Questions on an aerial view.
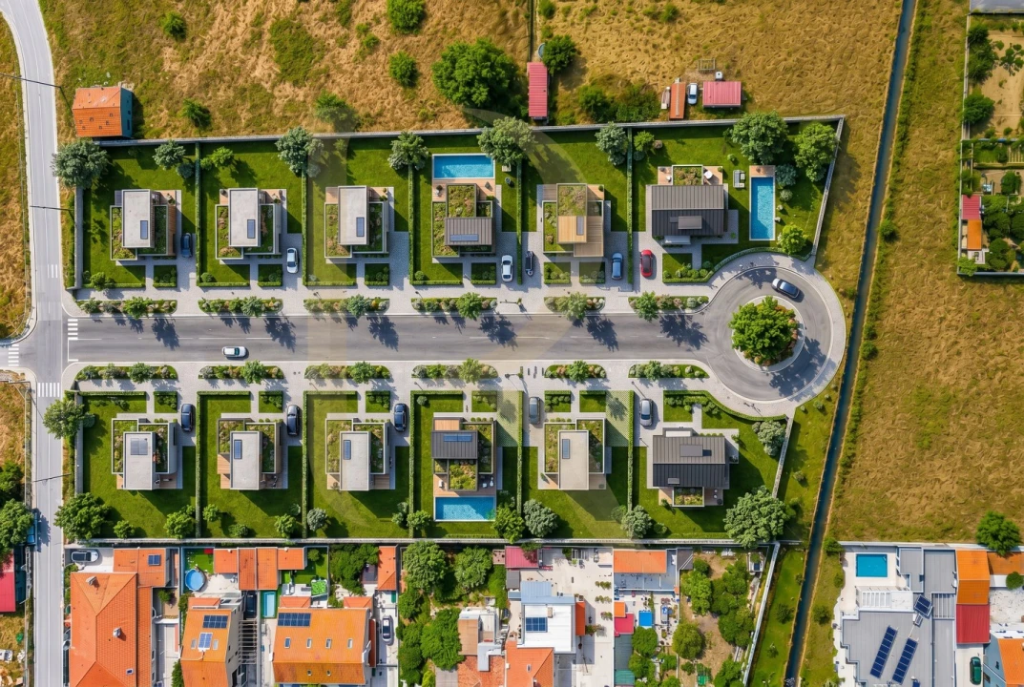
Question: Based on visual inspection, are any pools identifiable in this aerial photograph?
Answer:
Yes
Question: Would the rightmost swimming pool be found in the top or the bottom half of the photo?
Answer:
bottom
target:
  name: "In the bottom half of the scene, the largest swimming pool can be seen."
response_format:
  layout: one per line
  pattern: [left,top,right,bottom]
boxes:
[434,496,496,522]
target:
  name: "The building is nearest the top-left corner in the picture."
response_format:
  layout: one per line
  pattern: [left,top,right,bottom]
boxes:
[73,86,133,141]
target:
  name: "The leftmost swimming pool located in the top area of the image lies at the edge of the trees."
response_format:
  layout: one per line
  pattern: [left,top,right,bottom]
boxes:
[432,153,495,180]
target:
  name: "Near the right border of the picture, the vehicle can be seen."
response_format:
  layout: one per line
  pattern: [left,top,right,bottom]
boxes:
[969,655,983,684]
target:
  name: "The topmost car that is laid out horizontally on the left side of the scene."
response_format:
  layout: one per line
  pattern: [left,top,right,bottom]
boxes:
[223,346,247,358]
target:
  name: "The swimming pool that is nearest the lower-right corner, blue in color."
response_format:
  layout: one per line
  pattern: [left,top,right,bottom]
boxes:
[856,553,888,578]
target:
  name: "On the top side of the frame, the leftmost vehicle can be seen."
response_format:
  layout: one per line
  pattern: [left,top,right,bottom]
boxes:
[180,232,194,259]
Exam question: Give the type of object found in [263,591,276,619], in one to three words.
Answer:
swimming pool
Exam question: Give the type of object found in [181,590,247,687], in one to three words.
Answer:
house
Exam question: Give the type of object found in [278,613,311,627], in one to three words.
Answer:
solar panel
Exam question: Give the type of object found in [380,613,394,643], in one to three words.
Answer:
car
